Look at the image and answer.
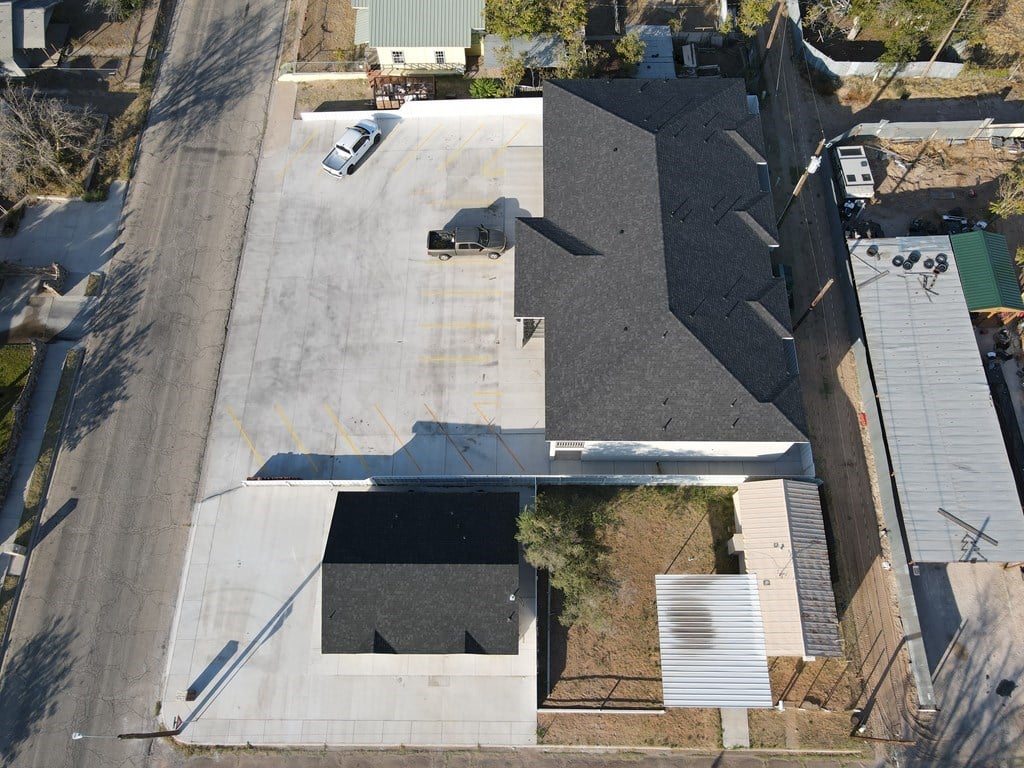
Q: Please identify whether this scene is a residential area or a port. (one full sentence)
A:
The picture captures a residential area.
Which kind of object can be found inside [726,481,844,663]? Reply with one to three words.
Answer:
house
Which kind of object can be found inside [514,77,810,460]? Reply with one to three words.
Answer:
building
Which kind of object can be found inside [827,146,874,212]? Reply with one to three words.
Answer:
van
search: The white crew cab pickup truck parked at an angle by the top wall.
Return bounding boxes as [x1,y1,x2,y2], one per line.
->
[318,120,383,185]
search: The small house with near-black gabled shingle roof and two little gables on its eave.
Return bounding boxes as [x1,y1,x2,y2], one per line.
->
[322,492,520,655]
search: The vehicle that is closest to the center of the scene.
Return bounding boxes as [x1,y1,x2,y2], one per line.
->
[425,225,507,261]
